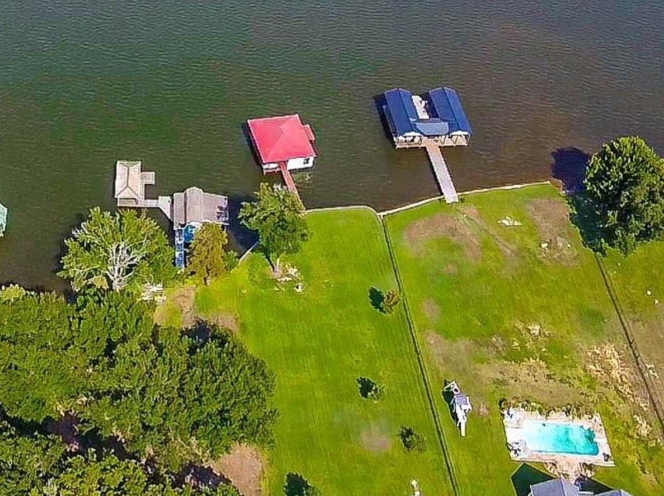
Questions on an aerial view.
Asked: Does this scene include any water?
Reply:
Yes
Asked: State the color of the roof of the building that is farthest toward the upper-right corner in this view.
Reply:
blue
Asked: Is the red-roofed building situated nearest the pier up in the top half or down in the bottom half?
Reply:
top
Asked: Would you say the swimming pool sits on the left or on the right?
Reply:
right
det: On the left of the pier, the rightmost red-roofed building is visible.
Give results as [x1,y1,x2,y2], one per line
[249,114,314,174]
